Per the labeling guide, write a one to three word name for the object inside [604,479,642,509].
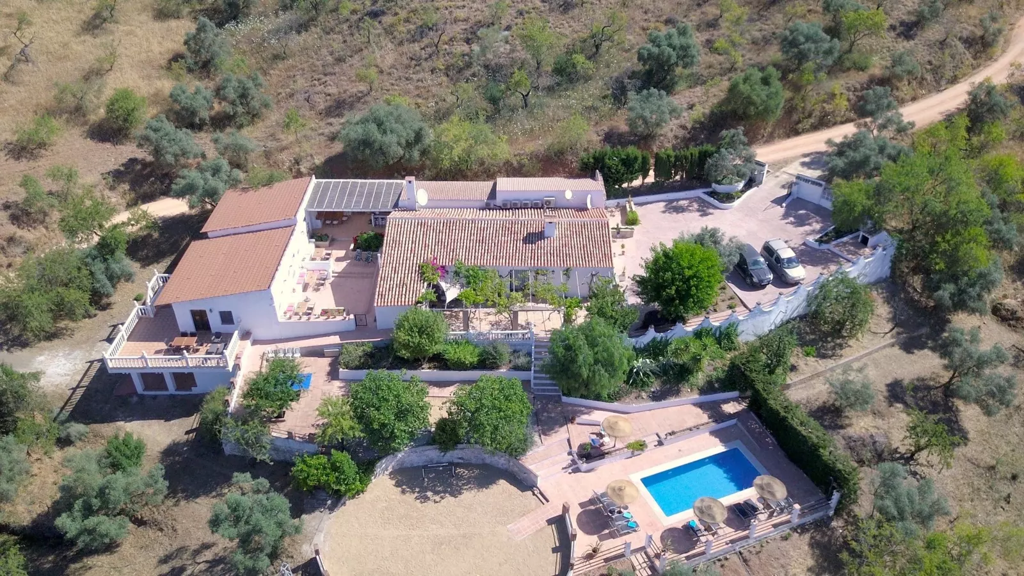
umbrella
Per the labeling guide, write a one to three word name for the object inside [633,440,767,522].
swimming pool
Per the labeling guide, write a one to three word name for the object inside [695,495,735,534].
umbrella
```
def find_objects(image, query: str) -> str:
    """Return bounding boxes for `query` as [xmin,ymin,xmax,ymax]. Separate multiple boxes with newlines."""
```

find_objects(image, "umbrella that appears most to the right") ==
[756,474,795,512]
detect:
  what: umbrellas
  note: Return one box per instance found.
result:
[756,474,795,512]
[599,416,634,448]
[695,495,735,534]
[604,479,642,509]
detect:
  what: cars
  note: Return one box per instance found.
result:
[765,239,805,280]
[734,243,773,283]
